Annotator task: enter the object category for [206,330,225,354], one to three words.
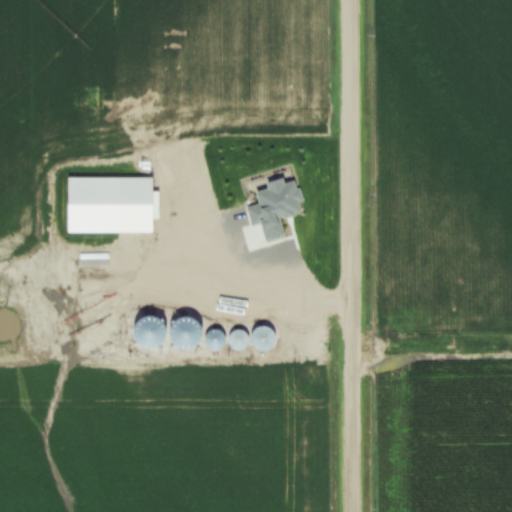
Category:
silo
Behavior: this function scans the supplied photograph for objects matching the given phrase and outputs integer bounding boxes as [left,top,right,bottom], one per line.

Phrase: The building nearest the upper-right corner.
[248,178,305,242]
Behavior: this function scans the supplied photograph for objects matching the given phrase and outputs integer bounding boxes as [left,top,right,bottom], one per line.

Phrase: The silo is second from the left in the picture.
[170,317,202,354]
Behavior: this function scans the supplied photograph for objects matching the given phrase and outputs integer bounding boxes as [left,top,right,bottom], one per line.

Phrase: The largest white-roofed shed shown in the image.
[68,176,160,234]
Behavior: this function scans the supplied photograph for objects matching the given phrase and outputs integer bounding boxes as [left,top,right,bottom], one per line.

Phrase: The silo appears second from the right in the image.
[230,330,249,353]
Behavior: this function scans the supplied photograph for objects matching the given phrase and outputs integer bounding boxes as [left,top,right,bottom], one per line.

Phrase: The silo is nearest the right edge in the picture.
[252,326,276,354]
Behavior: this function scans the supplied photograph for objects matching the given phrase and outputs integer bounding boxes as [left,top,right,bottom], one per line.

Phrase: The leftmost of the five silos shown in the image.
[134,316,166,353]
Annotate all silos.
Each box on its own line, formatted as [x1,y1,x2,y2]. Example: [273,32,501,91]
[170,317,202,354]
[252,326,276,354]
[230,330,249,353]
[206,330,225,354]
[134,316,166,353]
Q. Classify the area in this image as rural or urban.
rural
